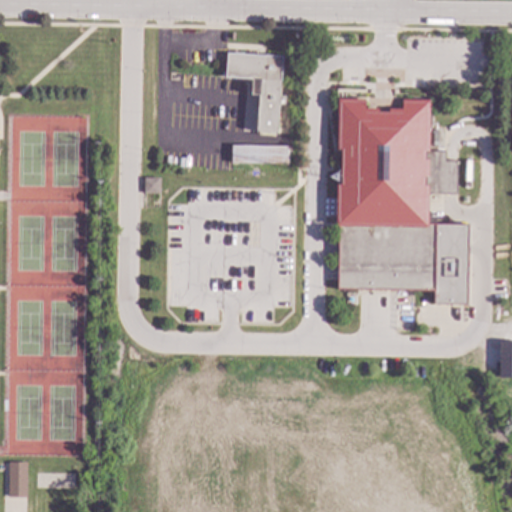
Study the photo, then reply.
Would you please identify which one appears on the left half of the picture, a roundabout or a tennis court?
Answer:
tennis court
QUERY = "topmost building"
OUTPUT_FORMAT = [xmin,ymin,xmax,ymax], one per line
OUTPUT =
[227,52,286,134]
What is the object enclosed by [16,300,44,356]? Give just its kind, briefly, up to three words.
tennis court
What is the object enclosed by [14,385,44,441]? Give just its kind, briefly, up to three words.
tennis court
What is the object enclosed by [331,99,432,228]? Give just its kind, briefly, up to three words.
building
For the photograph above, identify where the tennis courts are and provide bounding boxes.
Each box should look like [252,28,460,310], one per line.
[18,216,44,272]
[19,132,46,188]
[16,300,44,356]
[14,385,44,441]
[53,132,80,188]
[48,385,78,441]
[52,216,78,272]
[50,300,78,356]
